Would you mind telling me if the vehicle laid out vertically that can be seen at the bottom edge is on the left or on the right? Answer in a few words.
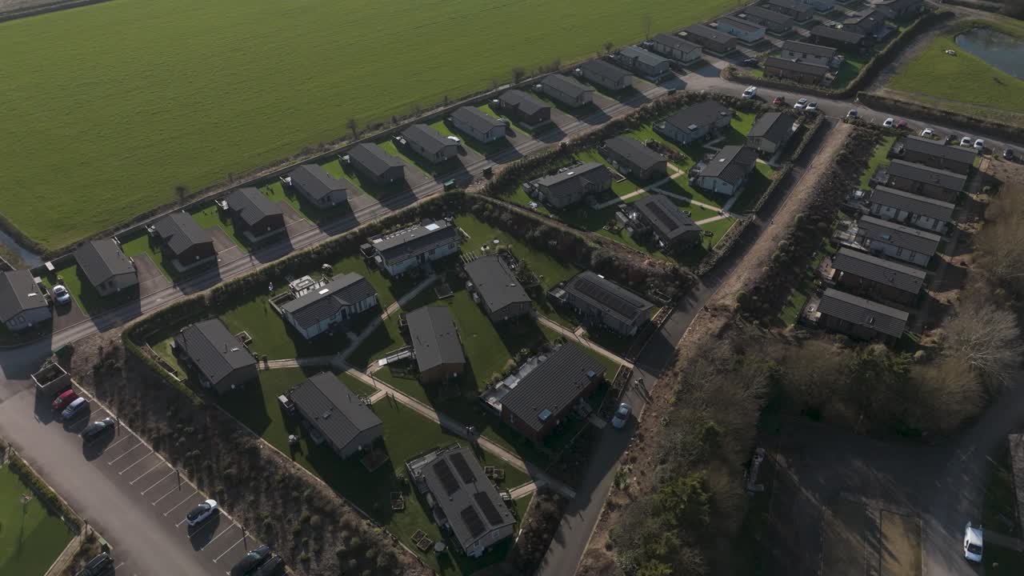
right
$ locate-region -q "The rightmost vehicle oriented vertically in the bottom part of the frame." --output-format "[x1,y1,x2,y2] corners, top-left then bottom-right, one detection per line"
[963,517,985,564]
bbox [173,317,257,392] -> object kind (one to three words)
building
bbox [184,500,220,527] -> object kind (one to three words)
car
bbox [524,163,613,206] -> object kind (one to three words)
building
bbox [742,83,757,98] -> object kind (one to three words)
vehicle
